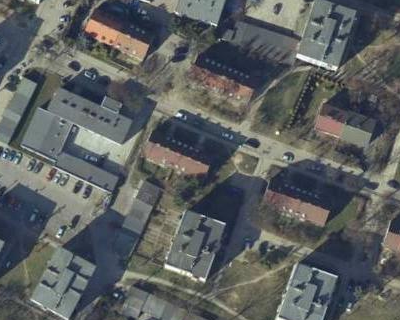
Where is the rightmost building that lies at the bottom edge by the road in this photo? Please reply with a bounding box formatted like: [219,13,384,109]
[276,264,337,320]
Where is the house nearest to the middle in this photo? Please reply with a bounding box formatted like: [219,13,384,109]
[144,128,214,179]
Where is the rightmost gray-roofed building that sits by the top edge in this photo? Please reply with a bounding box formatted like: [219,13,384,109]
[296,0,356,72]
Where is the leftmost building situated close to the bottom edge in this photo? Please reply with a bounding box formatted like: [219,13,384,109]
[32,245,96,320]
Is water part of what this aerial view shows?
No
